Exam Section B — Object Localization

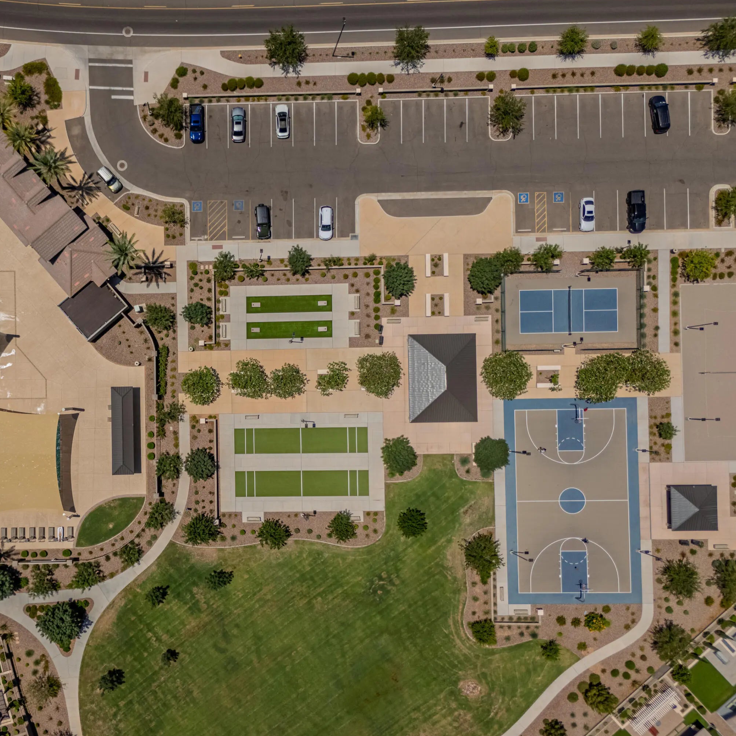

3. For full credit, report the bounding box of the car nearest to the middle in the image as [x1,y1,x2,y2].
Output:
[317,206,334,242]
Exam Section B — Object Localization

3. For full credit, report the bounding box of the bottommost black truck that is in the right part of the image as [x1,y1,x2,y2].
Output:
[624,189,649,234]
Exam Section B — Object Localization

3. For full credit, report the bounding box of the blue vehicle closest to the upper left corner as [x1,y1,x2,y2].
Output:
[188,103,206,145]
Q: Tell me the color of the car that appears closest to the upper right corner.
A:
black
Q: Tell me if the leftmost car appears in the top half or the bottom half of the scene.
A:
top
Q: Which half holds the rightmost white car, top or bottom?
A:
top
